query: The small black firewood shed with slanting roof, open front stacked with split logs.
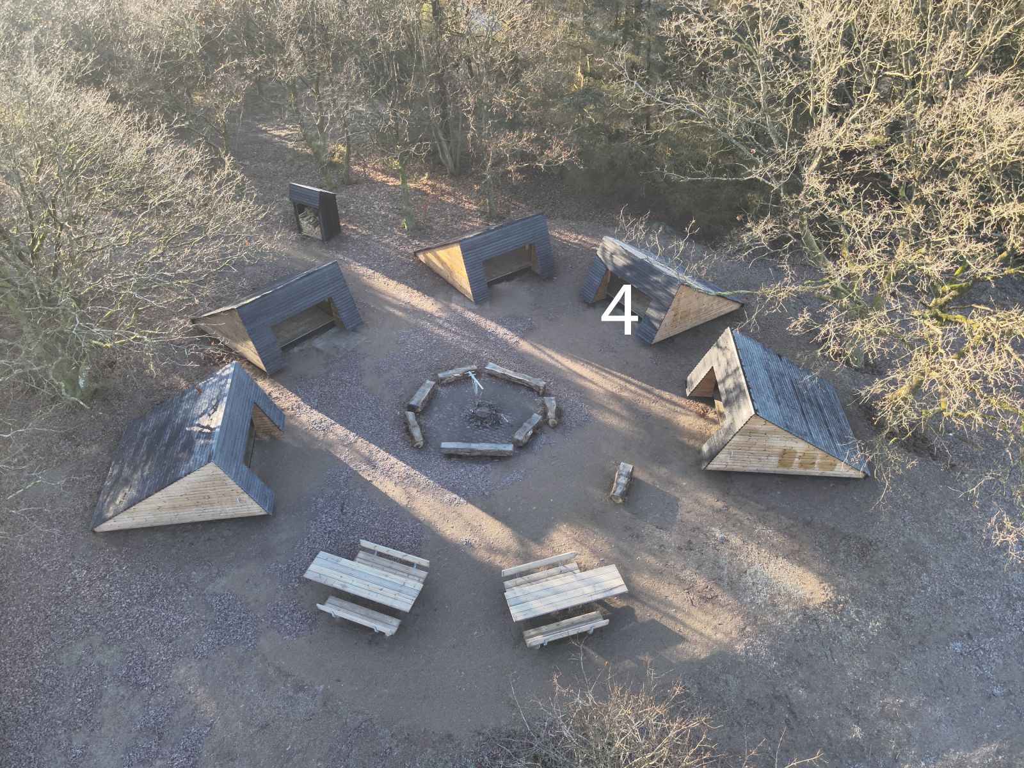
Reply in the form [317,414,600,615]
[289,182,340,241]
